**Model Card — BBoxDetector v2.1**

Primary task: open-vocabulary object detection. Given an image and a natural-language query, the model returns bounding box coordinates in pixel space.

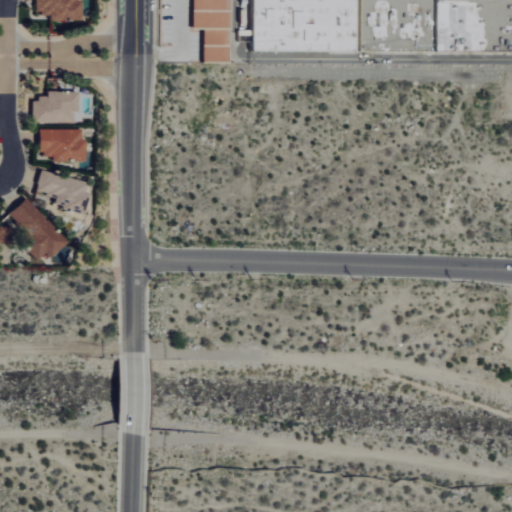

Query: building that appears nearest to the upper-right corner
[434,0,512,52]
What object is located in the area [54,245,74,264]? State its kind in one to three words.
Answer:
swimming pool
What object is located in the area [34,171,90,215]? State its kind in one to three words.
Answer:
house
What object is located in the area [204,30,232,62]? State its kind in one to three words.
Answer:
building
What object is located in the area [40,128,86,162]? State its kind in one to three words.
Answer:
house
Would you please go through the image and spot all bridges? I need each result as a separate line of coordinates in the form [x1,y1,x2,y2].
[120,352,151,434]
